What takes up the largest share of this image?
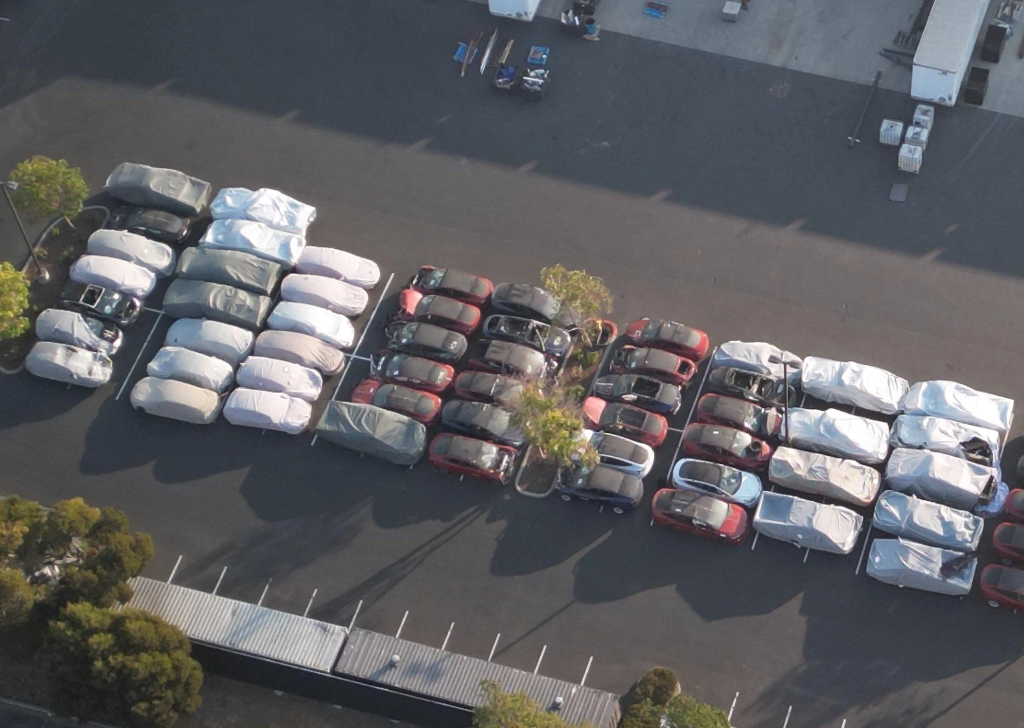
paved ground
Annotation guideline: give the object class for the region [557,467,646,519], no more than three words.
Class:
car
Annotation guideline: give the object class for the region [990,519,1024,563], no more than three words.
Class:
car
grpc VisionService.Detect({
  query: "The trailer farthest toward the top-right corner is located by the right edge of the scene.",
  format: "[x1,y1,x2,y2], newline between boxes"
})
[911,0,989,106]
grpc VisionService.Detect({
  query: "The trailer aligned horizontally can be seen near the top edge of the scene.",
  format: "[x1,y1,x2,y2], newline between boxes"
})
[489,0,541,21]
